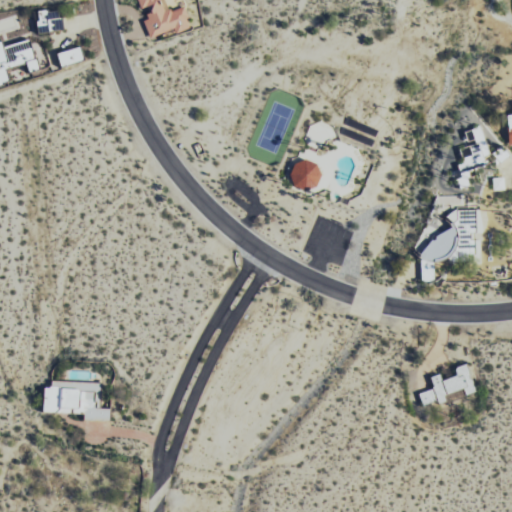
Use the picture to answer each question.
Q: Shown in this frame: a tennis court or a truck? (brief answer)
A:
tennis court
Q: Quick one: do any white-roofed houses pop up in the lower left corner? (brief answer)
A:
Yes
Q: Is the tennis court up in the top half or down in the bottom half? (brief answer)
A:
top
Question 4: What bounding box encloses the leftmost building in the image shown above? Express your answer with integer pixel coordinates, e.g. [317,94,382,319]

[0,39,40,86]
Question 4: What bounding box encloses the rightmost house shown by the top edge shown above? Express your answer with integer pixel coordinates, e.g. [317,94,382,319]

[139,0,192,38]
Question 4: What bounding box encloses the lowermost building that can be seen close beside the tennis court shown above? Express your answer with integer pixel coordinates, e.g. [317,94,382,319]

[291,160,322,190]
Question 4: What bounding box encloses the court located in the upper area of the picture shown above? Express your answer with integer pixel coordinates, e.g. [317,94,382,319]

[248,90,304,166]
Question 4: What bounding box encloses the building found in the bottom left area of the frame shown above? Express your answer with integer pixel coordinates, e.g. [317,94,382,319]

[42,382,110,422]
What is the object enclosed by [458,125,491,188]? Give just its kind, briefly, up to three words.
house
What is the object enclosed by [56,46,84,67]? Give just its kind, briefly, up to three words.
house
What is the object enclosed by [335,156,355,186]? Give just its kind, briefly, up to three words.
swimming pool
